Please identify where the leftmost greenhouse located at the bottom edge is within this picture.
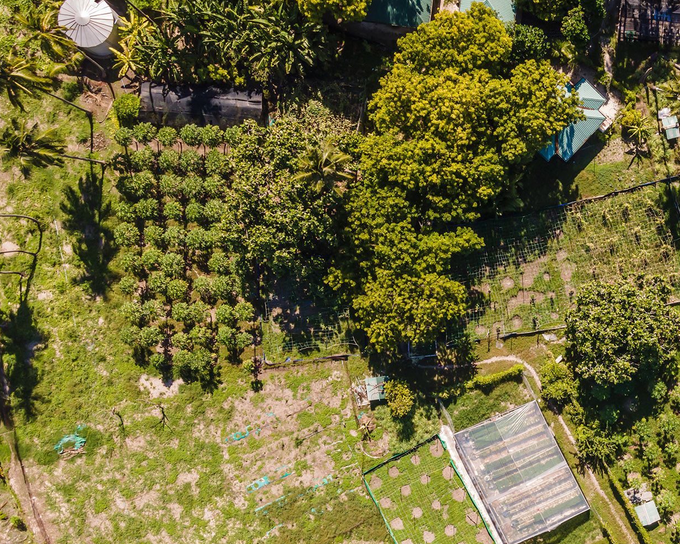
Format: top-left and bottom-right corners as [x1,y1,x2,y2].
[455,400,590,544]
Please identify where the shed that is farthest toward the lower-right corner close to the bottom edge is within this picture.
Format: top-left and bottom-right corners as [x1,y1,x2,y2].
[633,501,663,526]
